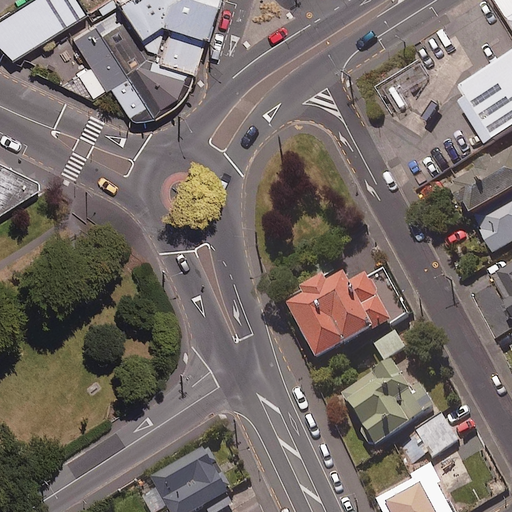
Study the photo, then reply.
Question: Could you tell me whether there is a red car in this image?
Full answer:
Yes, you can see a red car in this photo.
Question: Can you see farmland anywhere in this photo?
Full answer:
No, the picture contains no farmland.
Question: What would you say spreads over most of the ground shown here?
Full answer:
What you mostly see from above here is paved ground.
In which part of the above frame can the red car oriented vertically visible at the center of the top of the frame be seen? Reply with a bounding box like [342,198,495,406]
[220,9,232,32]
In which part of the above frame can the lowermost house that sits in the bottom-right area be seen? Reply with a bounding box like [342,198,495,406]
[350,462,454,512]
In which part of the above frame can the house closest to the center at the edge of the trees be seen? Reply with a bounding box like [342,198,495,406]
[286,270,390,355]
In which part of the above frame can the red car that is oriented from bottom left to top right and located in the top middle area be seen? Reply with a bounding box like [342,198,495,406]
[267,29,288,46]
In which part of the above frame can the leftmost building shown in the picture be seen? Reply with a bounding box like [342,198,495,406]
[0,165,40,218]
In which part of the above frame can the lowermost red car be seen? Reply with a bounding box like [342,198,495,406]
[456,420,476,435]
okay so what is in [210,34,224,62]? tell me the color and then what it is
white vehicle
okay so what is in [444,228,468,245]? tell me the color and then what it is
red car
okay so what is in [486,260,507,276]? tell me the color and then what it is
white vehicle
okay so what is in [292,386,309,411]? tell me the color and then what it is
white car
